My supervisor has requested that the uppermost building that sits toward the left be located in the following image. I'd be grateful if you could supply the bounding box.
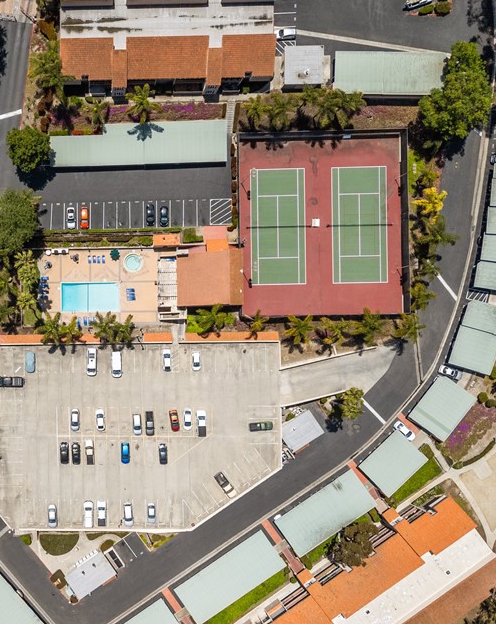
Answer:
[60,0,276,100]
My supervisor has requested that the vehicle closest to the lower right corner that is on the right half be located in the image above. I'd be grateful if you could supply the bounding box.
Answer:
[392,420,415,441]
